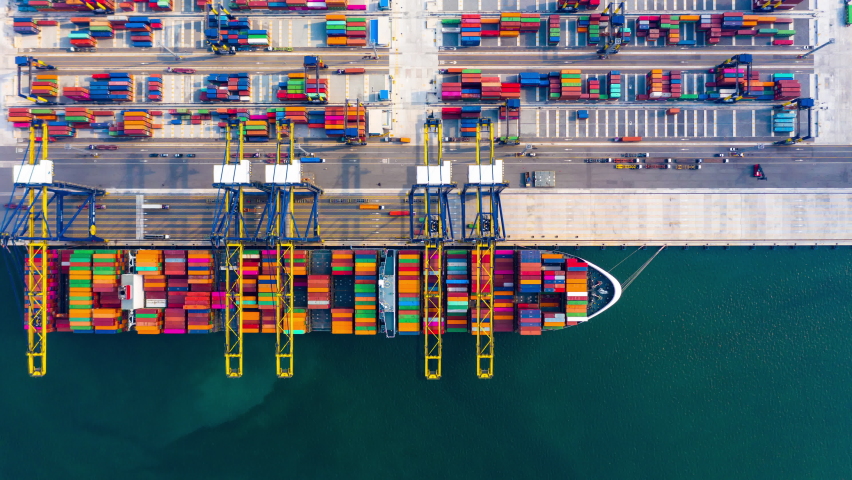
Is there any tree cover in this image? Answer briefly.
No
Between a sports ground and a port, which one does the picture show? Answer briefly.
port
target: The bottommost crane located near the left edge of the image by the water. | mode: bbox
[0,113,107,380]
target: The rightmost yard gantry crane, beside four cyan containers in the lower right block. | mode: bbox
[772,97,815,146]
